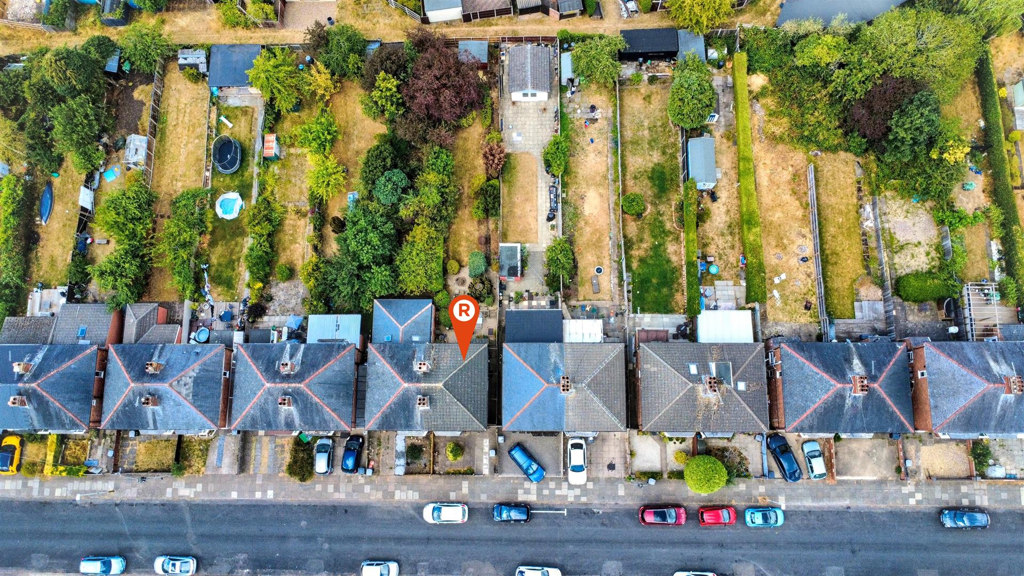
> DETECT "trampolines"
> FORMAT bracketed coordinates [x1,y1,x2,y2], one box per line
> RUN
[207,129,241,174]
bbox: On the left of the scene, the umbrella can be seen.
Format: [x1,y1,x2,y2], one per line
[285,313,304,332]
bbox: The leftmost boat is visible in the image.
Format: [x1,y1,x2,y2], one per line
[38,181,55,226]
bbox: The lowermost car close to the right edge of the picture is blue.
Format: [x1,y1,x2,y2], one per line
[936,506,989,531]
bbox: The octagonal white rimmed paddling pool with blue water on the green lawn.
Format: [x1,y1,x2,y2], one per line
[215,191,245,219]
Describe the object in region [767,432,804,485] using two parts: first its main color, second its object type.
blue car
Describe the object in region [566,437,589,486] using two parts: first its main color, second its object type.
white car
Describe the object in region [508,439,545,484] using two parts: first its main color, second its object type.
blue car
